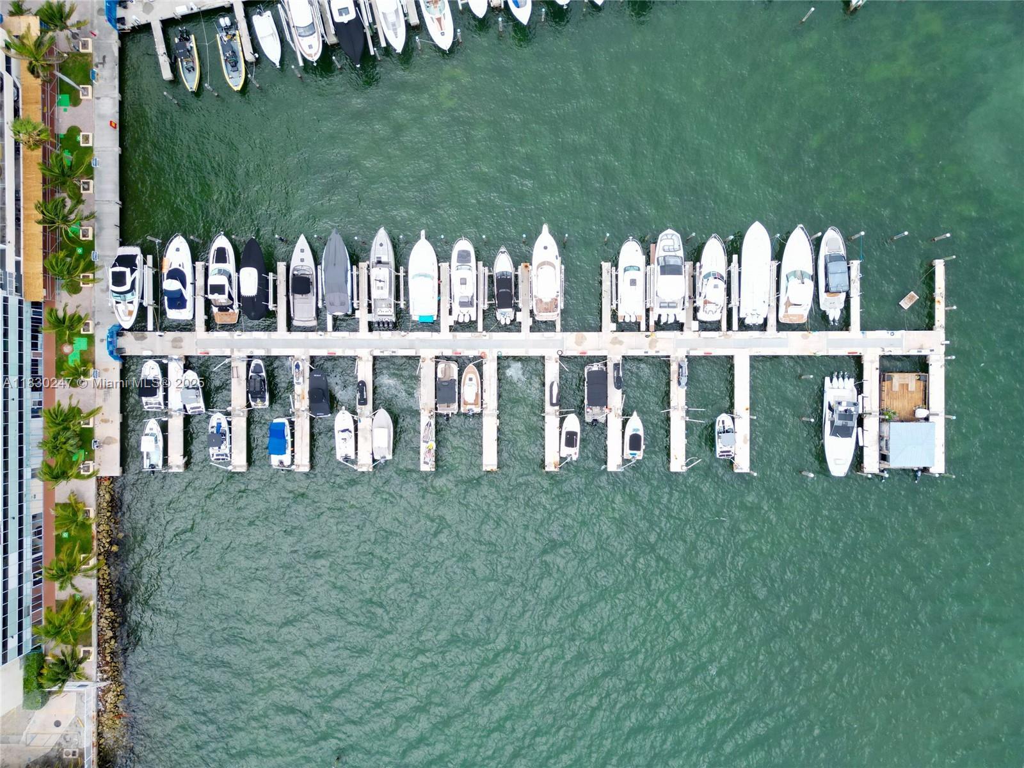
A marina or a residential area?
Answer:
marina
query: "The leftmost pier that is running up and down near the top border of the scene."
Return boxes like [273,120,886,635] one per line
[151,20,176,82]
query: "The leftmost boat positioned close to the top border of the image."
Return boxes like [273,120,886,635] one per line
[172,30,203,92]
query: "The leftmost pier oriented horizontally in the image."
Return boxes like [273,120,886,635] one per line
[120,0,266,34]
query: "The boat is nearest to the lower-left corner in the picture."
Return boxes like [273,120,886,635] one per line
[141,419,167,475]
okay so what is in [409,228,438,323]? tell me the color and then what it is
white boat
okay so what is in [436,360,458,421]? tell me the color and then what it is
white boat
